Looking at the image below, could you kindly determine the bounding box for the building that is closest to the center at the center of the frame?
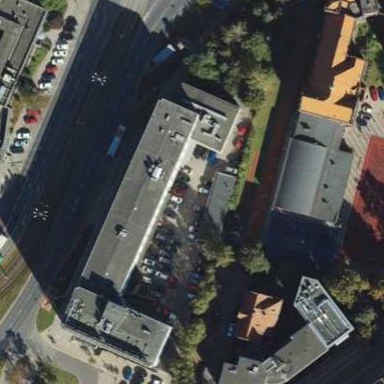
[209,172,237,231]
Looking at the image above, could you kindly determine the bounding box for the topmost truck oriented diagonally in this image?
[150,40,183,63]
